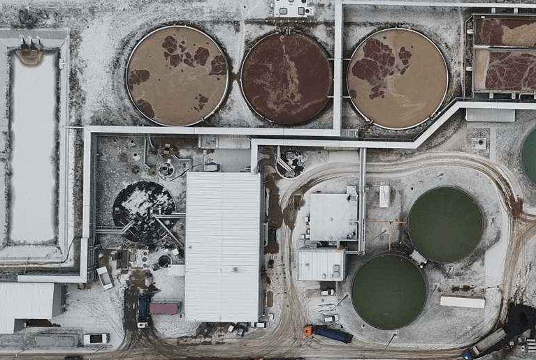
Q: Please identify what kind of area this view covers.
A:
industrial area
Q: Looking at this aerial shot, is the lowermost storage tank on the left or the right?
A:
right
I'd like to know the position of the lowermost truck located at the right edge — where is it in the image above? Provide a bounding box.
[463,327,510,360]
